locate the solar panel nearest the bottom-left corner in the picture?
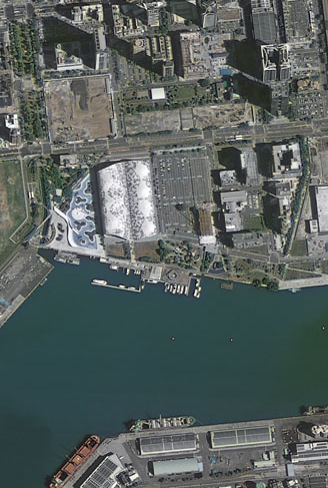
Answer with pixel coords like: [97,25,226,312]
[83,459,122,488]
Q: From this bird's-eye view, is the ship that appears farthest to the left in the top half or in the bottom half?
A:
bottom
